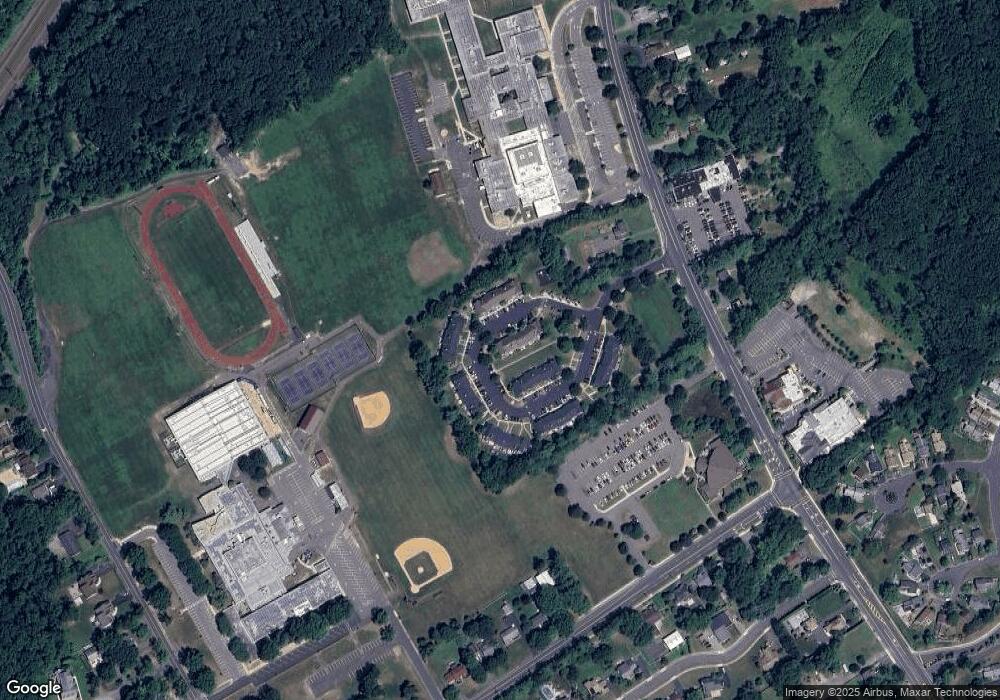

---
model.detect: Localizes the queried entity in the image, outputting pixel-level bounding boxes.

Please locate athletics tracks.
[140,180,287,366]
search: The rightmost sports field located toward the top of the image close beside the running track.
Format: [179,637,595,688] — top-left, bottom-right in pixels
[244,61,471,337]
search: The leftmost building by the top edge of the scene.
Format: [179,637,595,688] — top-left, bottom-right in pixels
[407,0,580,220]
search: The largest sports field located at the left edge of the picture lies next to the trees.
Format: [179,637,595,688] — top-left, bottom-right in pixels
[30,202,219,528]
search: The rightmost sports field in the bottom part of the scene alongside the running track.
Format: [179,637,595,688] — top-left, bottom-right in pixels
[326,341,635,616]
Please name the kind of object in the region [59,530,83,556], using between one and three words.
house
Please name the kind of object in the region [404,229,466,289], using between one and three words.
baseball field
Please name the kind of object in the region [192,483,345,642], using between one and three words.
building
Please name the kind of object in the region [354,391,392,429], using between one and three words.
baseball field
